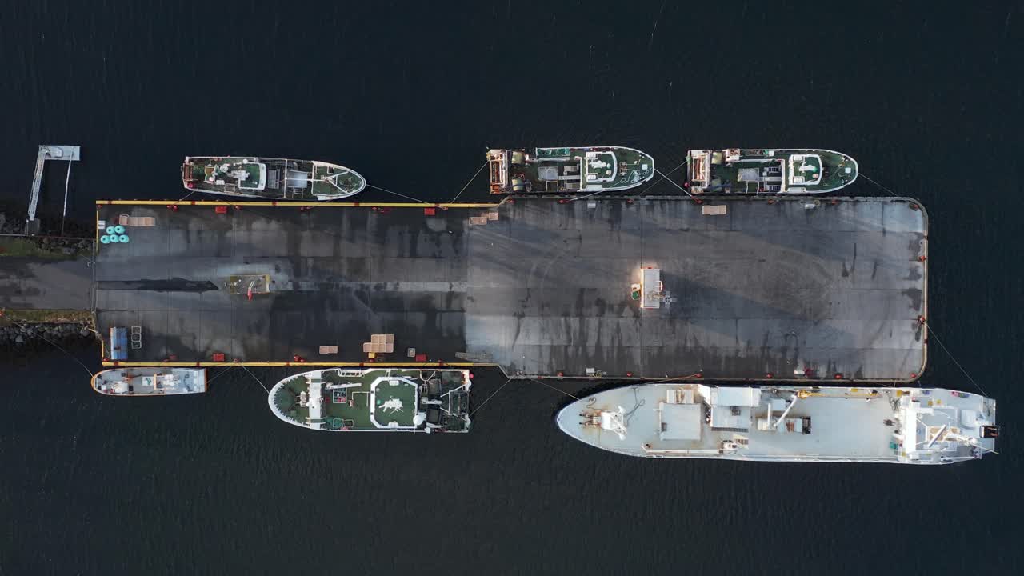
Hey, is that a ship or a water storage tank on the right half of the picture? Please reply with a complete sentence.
It is a ship that can be seen on the right half of the picture.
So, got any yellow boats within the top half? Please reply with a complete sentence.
No, no yellow boat is visible within the top half.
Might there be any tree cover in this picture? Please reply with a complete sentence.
No, the picture contains no tree cover.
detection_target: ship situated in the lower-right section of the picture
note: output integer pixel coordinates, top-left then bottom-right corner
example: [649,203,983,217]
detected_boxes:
[557,382,999,465]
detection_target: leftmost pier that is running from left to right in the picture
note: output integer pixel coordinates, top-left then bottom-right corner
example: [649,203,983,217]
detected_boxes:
[39,145,81,160]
